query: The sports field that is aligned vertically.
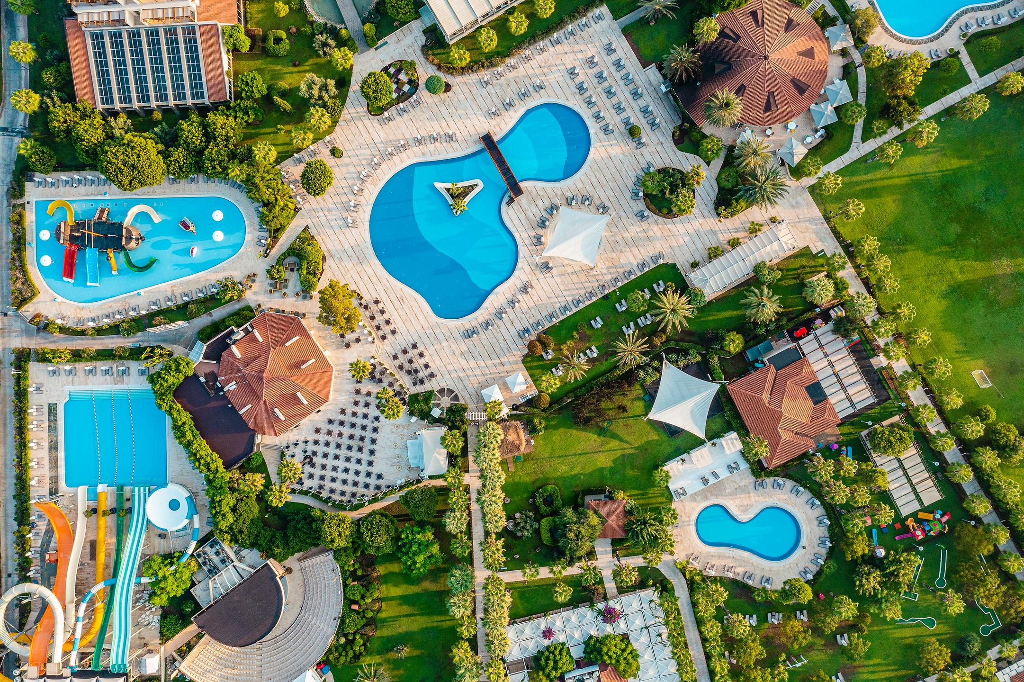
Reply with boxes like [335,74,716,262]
[814,70,1024,556]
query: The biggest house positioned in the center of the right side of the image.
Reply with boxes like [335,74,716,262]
[726,342,842,470]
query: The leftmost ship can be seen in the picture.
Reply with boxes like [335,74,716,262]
[52,208,147,252]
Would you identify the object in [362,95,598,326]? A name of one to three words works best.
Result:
swimming pool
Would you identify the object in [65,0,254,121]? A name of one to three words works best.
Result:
building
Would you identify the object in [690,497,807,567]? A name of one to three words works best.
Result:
swimming pool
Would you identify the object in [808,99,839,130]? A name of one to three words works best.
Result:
umbrella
